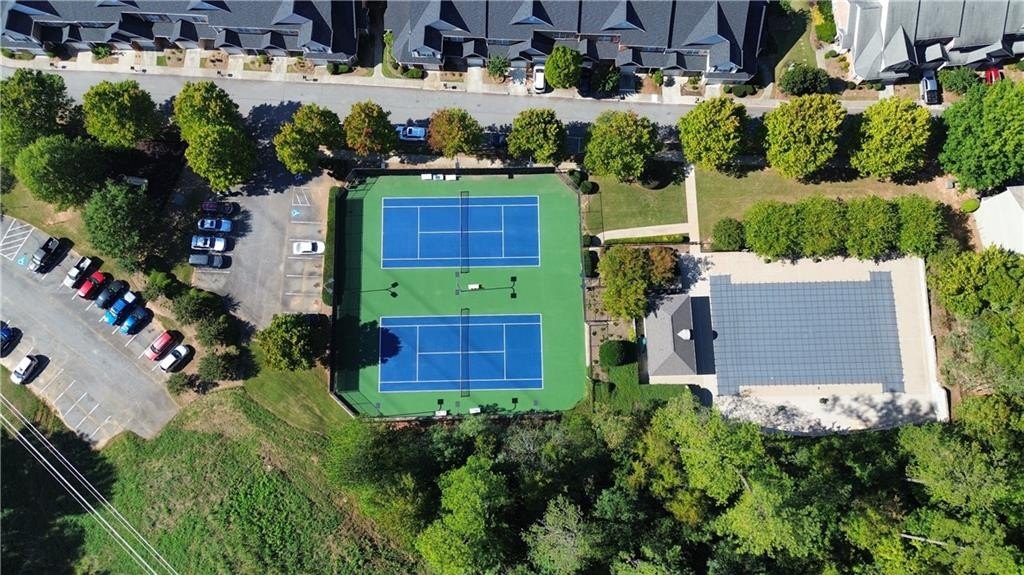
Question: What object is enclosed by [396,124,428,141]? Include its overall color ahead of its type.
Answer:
blue car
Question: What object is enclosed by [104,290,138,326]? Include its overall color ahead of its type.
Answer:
blue truck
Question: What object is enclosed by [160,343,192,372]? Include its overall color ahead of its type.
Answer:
white car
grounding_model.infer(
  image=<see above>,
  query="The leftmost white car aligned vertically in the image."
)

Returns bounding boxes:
[532,64,546,94]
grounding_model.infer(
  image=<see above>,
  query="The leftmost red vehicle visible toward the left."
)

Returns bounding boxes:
[77,271,107,299]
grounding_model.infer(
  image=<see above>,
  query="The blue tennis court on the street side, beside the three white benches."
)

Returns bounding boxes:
[341,174,584,291]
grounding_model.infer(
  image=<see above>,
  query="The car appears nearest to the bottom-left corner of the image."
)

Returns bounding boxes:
[10,352,38,385]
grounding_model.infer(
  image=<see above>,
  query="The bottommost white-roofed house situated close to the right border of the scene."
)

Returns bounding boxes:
[964,184,1024,258]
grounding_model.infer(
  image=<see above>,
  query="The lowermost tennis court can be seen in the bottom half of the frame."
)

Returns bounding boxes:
[338,291,589,418]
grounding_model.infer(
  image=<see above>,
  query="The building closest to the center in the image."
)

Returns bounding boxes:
[644,294,697,376]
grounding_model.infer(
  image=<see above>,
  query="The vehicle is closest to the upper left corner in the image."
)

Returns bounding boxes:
[27,237,61,273]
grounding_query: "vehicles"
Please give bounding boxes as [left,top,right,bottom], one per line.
[145,328,176,362]
[921,68,940,105]
[61,255,95,291]
[10,352,38,385]
[482,131,512,148]
[27,237,61,273]
[121,305,150,337]
[396,124,428,141]
[293,240,323,256]
[104,290,138,326]
[197,218,233,233]
[160,343,192,372]
[191,235,228,251]
[532,64,546,94]
[188,253,224,270]
[77,271,107,299]
[96,279,125,309]
[0,323,18,352]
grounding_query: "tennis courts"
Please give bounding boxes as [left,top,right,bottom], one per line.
[341,174,584,291]
[338,291,589,418]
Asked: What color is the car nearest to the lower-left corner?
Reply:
white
